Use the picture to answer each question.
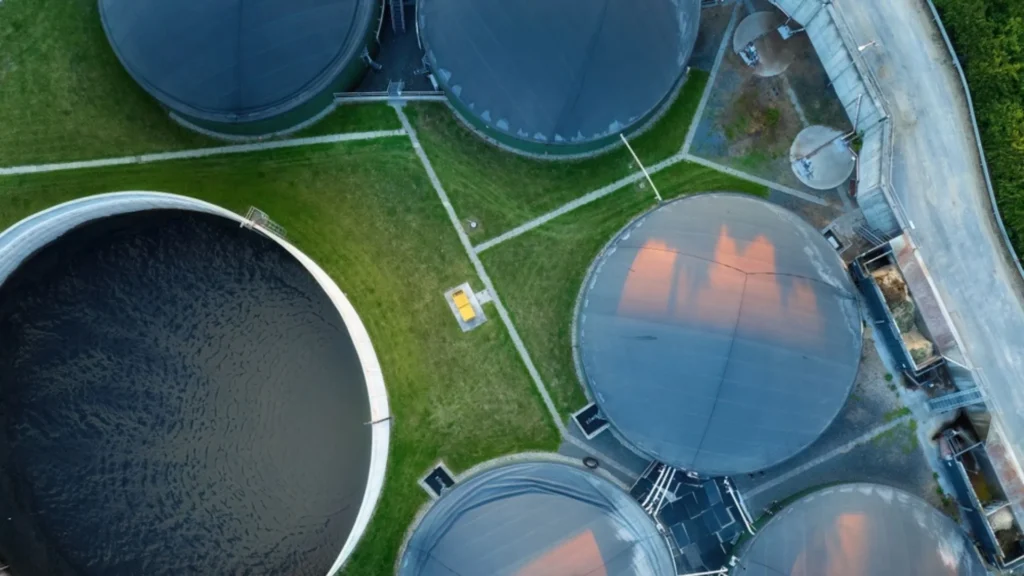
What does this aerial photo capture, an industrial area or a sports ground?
industrial area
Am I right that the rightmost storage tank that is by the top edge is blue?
Yes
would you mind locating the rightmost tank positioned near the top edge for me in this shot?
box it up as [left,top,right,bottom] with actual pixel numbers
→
[414,0,701,153]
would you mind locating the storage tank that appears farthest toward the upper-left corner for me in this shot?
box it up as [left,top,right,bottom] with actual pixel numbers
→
[97,0,394,134]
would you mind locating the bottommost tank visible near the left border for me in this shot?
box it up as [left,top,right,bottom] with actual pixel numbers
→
[0,192,394,576]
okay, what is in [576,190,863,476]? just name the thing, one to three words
storage tank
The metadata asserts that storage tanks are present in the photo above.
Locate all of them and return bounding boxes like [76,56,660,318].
[724,479,996,576]
[414,0,701,153]
[576,190,863,476]
[0,192,394,576]
[97,0,394,134]
[397,455,677,576]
